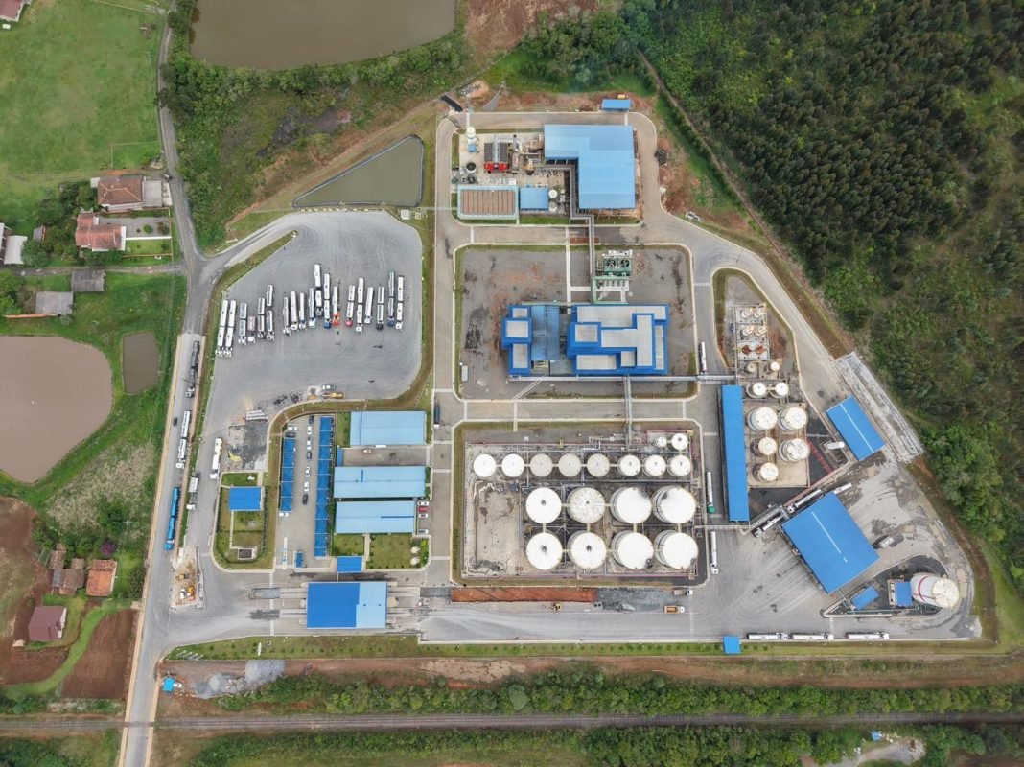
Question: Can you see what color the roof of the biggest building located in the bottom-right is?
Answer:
blue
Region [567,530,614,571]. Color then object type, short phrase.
white storage tank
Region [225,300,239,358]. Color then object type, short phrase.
white vehicle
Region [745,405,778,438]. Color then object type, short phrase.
white storage tank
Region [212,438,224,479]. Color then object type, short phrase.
white vehicle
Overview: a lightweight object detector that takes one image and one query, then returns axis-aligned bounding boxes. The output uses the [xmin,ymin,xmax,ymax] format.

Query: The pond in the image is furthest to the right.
[296,136,423,205]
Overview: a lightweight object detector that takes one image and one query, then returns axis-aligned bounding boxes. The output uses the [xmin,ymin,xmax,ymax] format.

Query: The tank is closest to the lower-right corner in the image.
[910,574,960,607]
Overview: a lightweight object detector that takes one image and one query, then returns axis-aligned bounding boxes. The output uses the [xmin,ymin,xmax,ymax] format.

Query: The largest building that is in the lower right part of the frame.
[889,581,913,606]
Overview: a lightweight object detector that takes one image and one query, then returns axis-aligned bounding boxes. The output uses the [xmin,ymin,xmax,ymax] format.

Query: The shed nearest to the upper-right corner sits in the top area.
[602,99,631,114]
